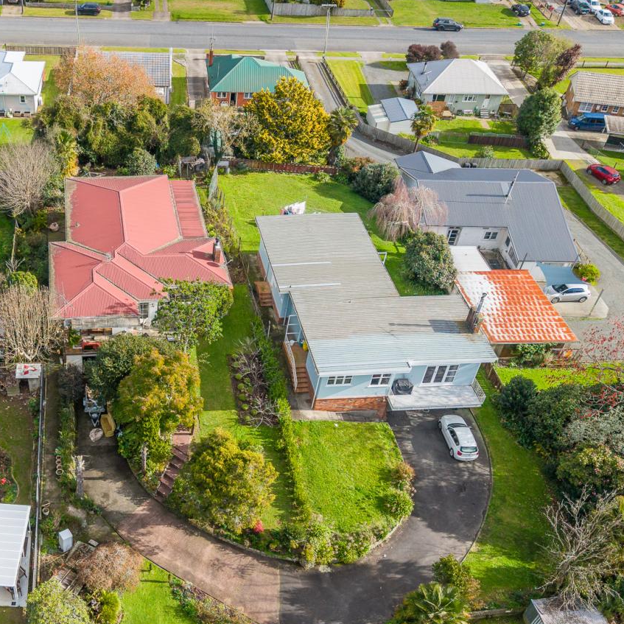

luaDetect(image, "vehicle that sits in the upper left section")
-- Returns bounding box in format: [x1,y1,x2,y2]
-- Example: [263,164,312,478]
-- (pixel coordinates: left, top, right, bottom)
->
[75,3,104,17]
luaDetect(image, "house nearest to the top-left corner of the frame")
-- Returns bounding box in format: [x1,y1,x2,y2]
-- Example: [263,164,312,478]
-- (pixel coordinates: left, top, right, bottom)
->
[0,52,46,113]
